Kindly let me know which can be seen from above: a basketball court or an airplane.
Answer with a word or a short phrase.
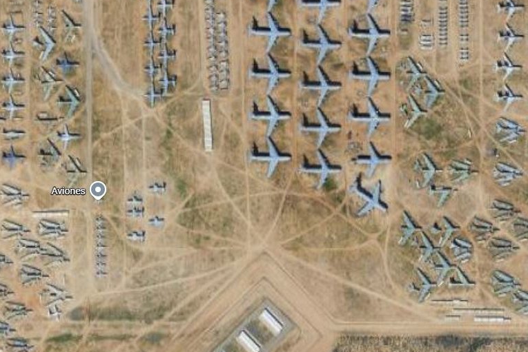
airplane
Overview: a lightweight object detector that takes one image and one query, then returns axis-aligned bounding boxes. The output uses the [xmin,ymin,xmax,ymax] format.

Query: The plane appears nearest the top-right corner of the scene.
[499,0,525,20]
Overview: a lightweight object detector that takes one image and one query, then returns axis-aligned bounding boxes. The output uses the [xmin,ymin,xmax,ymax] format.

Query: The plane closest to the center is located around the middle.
[250,137,291,178]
